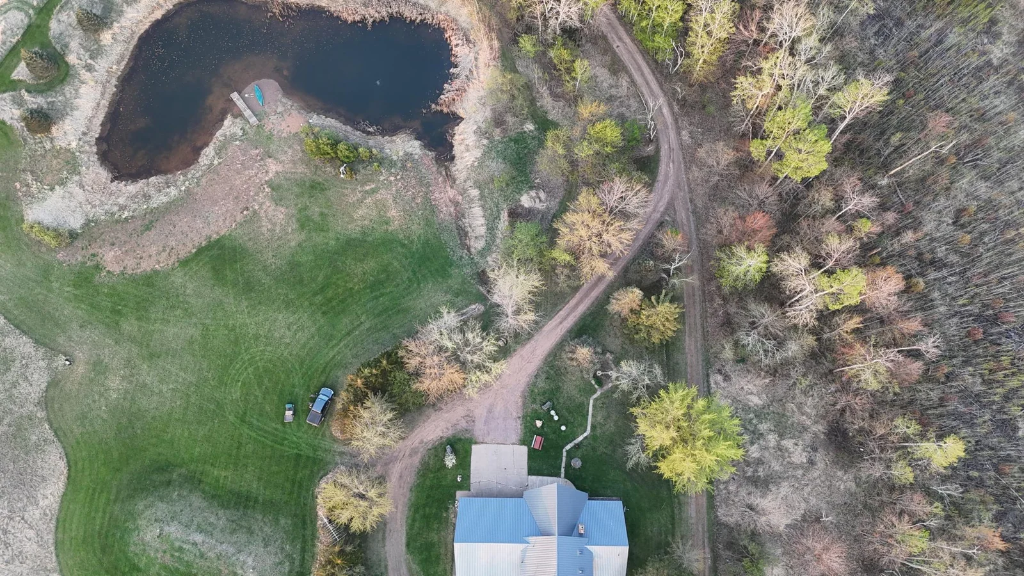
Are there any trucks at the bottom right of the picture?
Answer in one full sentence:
No, there's no truck to be seen at the bottom right of the picture.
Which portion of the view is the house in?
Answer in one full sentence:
The house appears toward the bottom of the photo.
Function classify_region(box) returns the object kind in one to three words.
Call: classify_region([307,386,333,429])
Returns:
truck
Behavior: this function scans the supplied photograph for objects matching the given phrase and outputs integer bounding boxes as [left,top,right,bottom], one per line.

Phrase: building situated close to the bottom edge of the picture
[454,482,628,576]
